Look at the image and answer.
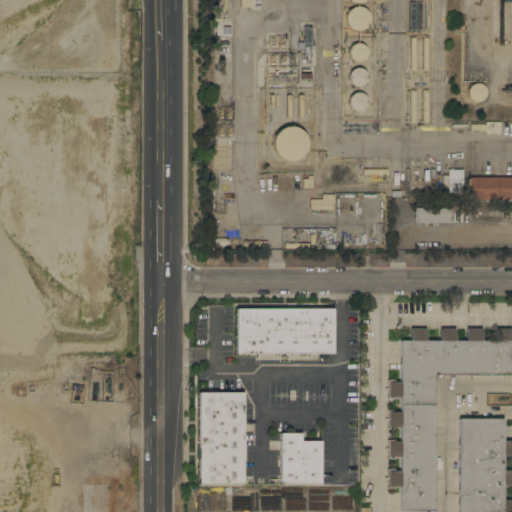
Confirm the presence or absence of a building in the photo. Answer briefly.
Yes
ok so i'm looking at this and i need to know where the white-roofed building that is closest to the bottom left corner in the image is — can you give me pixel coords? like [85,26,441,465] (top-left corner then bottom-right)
[199,393,246,484]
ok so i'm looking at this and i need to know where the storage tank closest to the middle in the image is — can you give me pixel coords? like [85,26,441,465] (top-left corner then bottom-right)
[274,127,310,162]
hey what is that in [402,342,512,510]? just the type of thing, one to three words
warehouse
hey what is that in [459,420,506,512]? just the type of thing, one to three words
building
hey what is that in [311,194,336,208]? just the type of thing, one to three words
building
